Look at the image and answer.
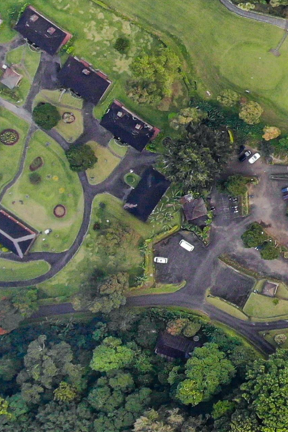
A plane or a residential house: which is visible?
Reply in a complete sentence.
The image shows a residential house.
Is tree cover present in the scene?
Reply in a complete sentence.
Yes, tree cover shows up in the scene.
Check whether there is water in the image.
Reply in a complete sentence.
No, water can't be seen anywhere here.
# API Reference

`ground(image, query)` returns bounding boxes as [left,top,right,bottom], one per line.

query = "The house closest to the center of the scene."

[124,167,173,222]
